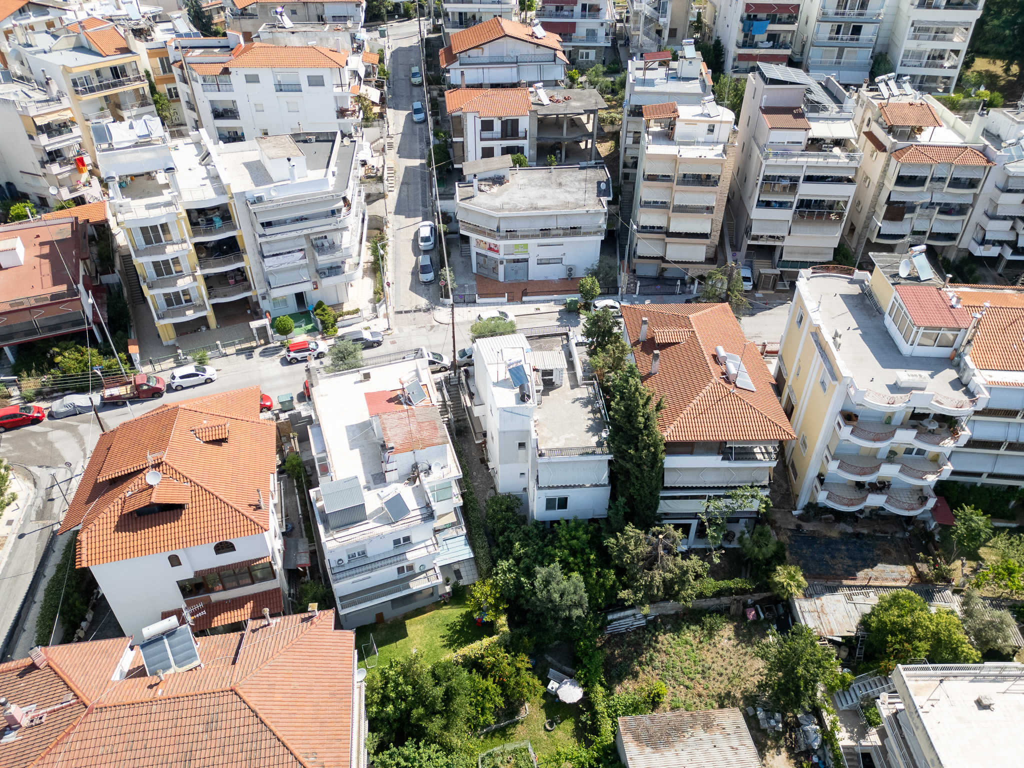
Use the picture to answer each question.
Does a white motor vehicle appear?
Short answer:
Yes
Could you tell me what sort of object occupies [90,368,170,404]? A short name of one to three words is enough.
truck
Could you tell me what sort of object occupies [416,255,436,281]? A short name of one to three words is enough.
car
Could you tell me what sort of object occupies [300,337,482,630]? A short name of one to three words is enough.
house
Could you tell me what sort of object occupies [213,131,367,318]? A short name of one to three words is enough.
building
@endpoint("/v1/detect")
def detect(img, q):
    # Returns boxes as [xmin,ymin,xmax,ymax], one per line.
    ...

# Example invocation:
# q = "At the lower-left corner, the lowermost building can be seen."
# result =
[0,606,368,768]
